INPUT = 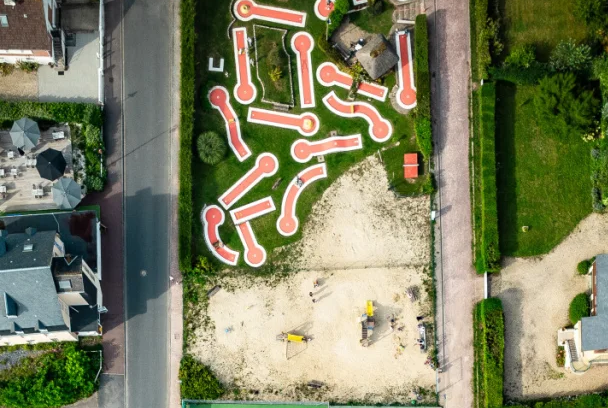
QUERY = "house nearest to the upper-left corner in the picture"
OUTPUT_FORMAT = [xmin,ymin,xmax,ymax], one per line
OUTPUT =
[0,0,59,59]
